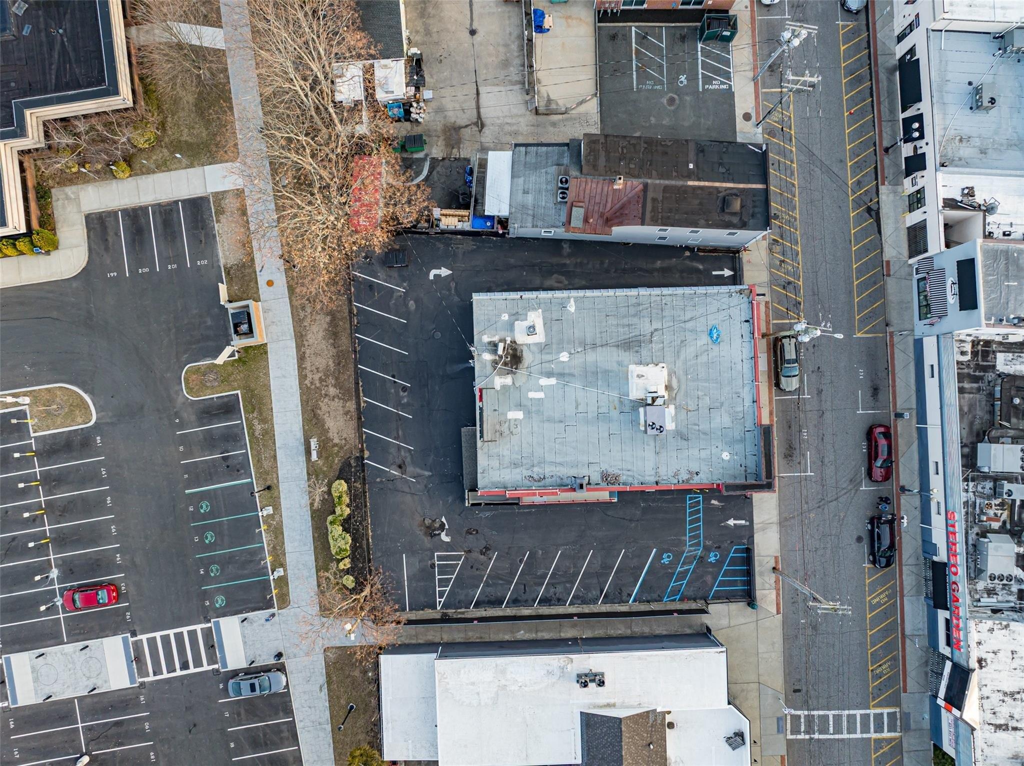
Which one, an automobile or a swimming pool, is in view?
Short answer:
automobile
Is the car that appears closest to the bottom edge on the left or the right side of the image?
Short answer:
left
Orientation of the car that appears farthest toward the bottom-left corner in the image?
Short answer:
from left to right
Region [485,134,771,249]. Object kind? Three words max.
building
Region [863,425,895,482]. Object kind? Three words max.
car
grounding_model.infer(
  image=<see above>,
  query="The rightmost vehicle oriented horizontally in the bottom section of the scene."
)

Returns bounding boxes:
[228,668,288,698]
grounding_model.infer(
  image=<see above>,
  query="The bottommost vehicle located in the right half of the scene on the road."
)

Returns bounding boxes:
[865,516,898,574]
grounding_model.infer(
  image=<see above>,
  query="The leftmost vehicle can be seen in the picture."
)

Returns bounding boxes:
[64,582,120,613]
